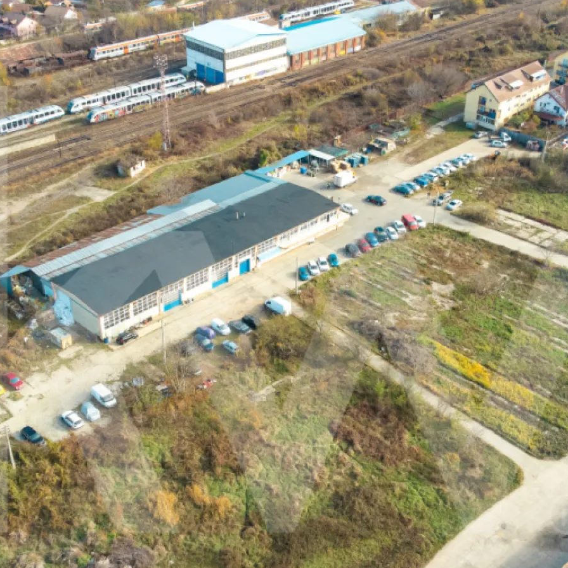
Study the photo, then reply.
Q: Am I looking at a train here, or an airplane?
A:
train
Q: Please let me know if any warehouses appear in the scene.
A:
Yes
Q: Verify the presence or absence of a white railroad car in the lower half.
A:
No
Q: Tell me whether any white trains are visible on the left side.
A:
Yes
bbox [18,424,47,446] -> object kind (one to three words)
car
